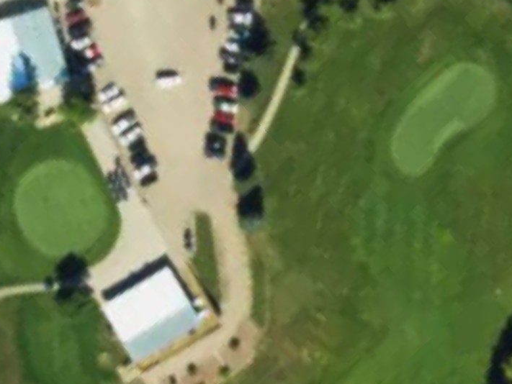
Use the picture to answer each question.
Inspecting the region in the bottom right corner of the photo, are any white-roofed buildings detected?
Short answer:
No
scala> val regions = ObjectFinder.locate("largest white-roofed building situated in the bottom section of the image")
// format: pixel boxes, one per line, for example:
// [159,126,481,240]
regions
[102,260,221,383]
